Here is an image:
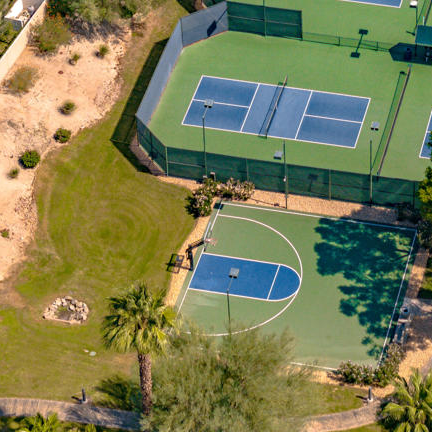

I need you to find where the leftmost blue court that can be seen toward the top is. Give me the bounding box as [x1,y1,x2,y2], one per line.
[183,76,371,148]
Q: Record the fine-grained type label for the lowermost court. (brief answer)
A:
basketball court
